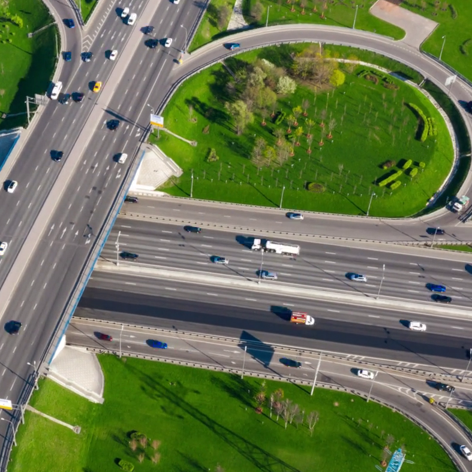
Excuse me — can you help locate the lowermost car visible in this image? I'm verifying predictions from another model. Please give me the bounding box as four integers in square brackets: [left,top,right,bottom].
[459,445,472,461]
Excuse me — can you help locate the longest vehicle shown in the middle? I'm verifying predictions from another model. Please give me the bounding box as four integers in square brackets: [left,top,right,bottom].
[249,239,300,257]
